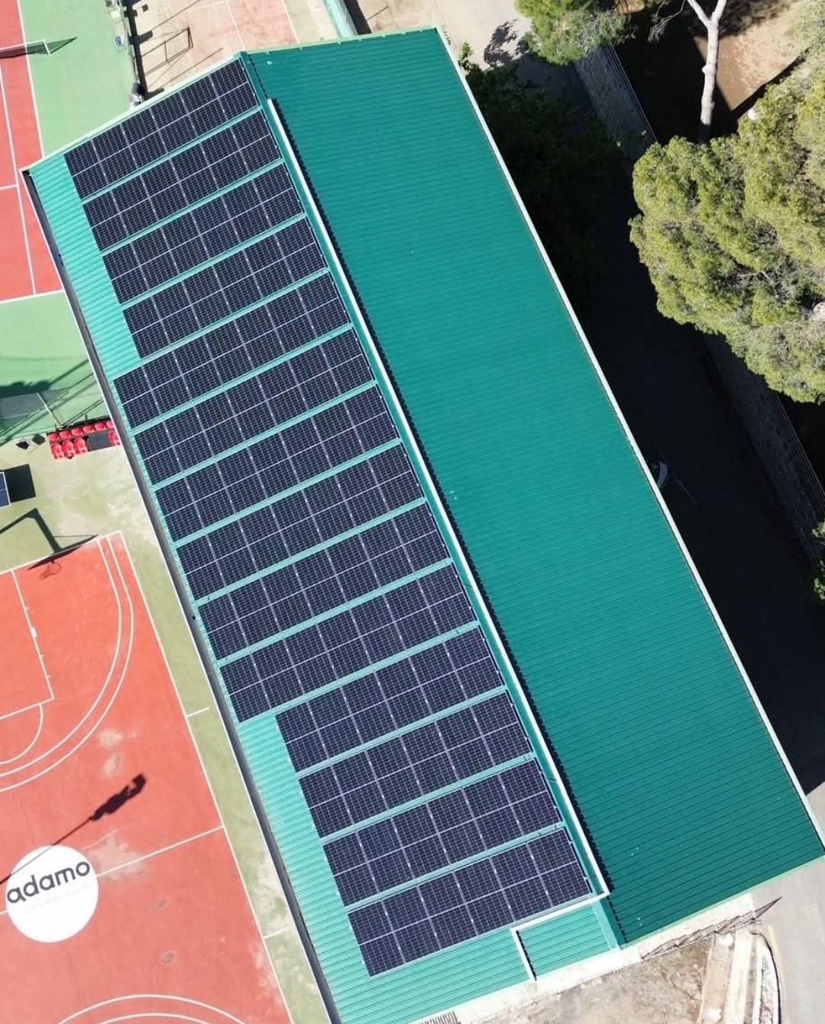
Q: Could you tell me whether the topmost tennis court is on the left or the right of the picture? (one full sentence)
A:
The topmost tennis court appears in the left half of the scene.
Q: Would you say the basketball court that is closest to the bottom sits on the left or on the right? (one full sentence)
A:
The basketball court that is closest to the bottom appears in the left half of the scene.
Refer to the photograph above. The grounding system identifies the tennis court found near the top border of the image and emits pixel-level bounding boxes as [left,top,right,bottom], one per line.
[0,0,63,302]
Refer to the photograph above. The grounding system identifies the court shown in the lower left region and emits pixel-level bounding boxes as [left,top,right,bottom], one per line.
[0,530,290,1024]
